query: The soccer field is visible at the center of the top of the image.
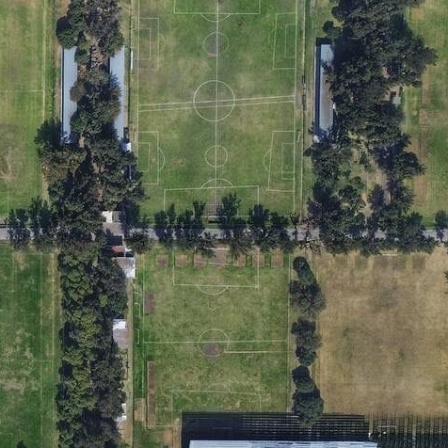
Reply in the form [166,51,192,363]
[127,0,308,225]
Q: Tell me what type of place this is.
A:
sports ground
